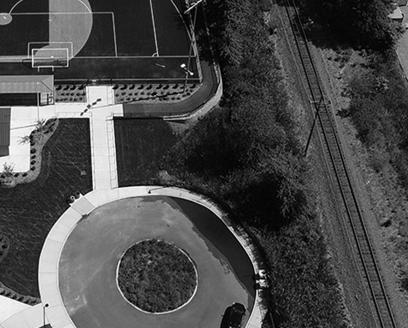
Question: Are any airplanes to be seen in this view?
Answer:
No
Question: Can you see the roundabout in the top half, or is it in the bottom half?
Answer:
bottom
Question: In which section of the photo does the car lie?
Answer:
bottom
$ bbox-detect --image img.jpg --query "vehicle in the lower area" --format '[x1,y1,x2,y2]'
[220,303,246,328]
